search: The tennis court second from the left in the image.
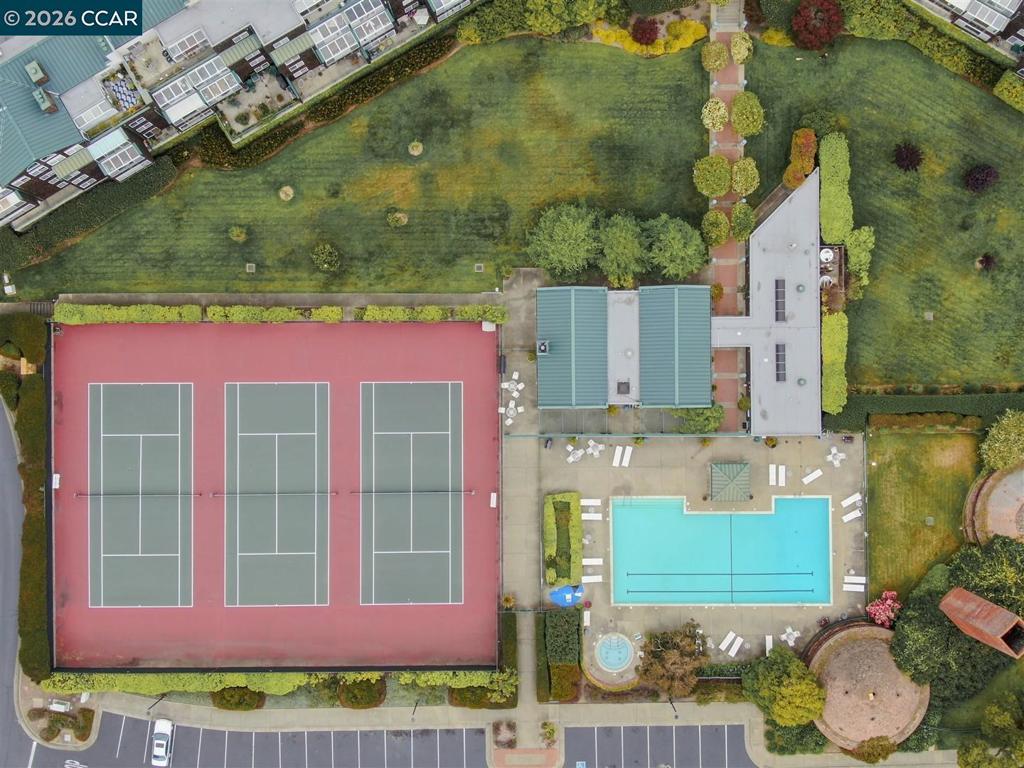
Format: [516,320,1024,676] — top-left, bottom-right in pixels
[212,382,339,606]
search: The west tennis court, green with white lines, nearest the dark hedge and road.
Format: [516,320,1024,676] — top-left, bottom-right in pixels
[74,383,203,607]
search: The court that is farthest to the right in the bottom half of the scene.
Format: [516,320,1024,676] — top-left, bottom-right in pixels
[349,381,474,605]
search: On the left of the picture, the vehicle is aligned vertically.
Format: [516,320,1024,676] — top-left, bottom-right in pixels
[151,718,175,766]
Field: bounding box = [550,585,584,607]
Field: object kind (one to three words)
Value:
umbrella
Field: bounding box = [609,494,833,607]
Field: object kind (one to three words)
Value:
swimming pool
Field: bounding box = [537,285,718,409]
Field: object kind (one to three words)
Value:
building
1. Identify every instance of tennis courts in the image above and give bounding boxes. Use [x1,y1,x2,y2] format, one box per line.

[212,382,339,606]
[349,381,474,605]
[74,383,203,607]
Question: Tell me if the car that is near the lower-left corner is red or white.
white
